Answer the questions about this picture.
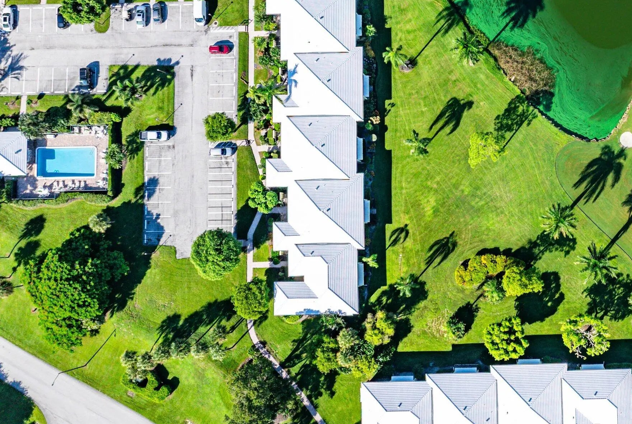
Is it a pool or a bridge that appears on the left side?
pool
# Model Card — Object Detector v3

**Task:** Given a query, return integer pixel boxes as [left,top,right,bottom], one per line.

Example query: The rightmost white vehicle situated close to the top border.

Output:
[190,0,205,26]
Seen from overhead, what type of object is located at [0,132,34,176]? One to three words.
building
